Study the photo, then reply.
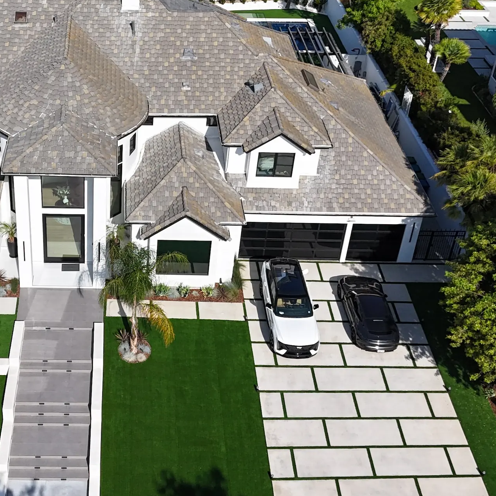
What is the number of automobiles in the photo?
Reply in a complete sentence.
The number of automobiles here is 2.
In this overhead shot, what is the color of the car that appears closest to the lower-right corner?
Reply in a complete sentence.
The color of the car that appears closest to the lower-right corner is black.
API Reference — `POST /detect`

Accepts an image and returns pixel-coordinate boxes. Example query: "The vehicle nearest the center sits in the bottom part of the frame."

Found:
[261,261,322,353]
